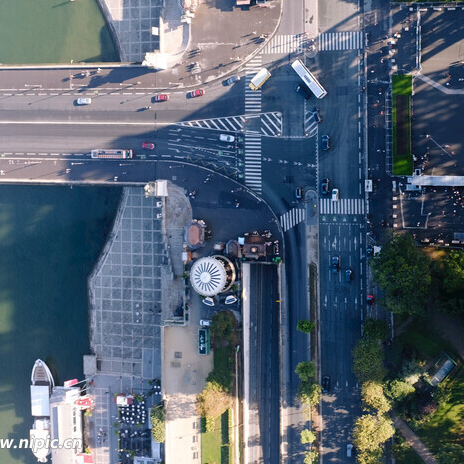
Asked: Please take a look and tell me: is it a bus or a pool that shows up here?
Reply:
bus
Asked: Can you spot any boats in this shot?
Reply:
Yes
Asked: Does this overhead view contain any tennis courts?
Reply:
No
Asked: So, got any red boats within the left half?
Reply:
No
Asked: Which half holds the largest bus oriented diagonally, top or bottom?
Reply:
top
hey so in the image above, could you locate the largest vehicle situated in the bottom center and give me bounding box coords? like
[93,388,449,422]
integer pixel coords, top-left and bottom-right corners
[195,329,208,359]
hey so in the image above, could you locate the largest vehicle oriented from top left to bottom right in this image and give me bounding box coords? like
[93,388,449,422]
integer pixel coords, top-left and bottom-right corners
[287,58,325,101]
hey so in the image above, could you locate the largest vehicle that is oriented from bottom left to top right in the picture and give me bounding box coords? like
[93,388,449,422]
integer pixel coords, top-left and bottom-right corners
[245,65,268,90]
